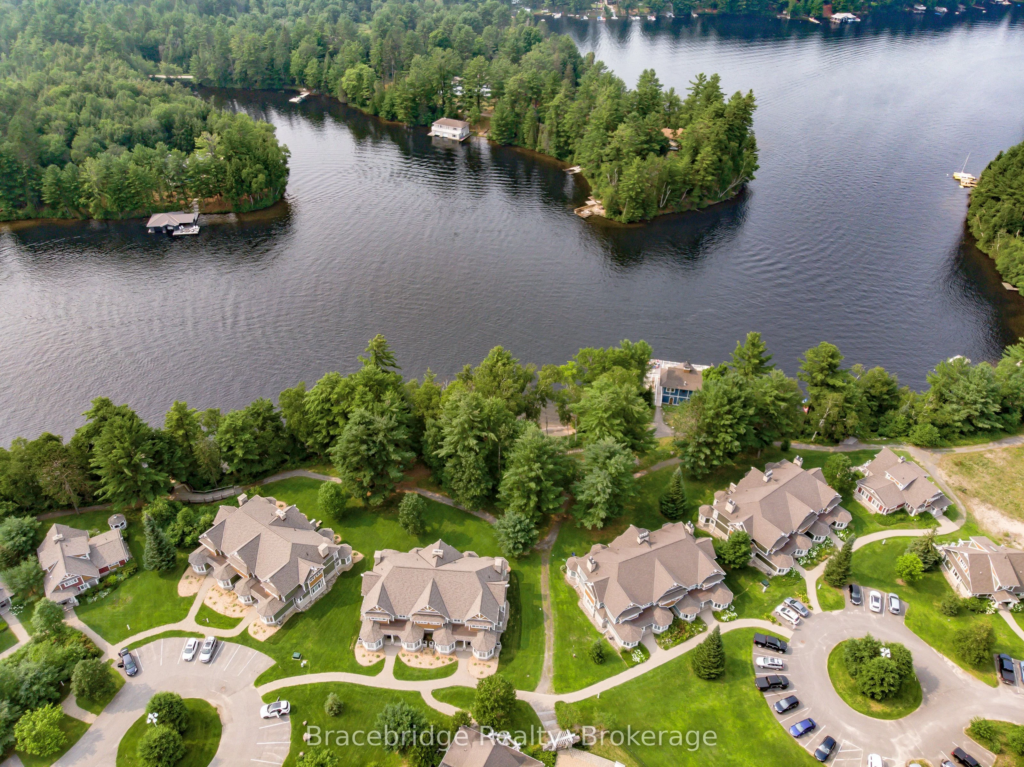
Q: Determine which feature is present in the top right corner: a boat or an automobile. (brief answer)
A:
boat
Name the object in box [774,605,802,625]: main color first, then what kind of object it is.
white car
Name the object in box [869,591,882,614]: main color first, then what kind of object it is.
white vehicle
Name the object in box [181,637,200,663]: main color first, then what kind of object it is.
white car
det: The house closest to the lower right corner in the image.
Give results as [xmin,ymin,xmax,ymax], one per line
[944,533,1024,612]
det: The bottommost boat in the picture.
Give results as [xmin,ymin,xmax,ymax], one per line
[944,354,971,366]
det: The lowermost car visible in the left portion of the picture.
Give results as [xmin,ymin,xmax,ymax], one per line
[261,697,290,721]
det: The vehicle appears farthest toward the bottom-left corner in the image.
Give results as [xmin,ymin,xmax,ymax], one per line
[115,647,138,677]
